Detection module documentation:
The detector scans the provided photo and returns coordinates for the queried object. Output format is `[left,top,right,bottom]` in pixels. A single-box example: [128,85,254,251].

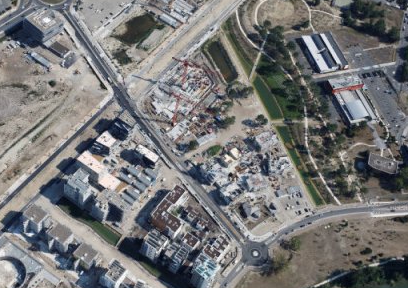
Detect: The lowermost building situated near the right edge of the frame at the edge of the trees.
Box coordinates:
[367,153,398,178]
